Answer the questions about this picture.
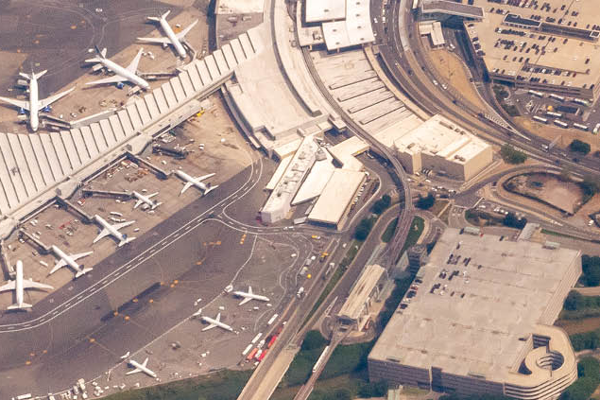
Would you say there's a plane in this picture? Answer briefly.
Yes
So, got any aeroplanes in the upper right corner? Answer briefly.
No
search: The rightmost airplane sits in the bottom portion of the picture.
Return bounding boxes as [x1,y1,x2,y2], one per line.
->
[231,284,269,304]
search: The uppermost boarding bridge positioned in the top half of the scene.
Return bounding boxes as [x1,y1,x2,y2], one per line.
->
[179,37,196,62]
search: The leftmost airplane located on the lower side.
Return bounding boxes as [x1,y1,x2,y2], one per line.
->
[0,260,61,308]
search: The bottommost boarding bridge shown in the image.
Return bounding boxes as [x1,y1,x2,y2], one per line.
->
[2,242,16,281]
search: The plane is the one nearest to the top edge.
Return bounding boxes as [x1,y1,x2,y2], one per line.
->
[131,3,203,56]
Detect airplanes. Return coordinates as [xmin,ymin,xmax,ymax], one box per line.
[83,43,148,89]
[0,260,61,308]
[131,3,203,56]
[0,66,77,129]
[126,353,156,377]
[49,244,94,278]
[177,170,216,194]
[135,192,159,208]
[200,310,232,329]
[231,284,269,304]
[93,214,135,246]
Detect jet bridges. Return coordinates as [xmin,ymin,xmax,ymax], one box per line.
[38,117,60,131]
[66,199,98,224]
[38,111,58,127]
[79,186,135,200]
[18,224,56,252]
[153,142,193,163]
[179,37,196,62]
[136,69,179,81]
[2,242,16,281]
[128,156,178,181]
